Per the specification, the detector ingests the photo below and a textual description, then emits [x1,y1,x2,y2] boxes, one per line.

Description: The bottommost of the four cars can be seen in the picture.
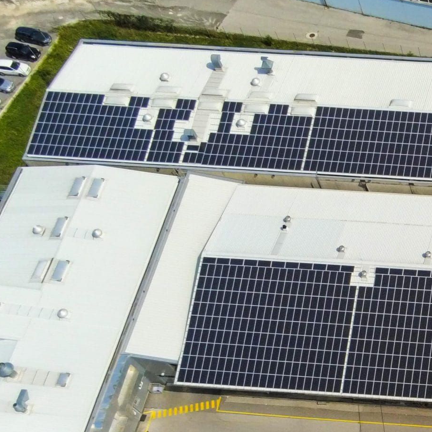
[0,78,15,95]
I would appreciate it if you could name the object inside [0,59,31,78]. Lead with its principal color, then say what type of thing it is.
white car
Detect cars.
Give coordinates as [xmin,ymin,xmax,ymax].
[5,41,41,63]
[14,26,52,46]
[0,78,15,95]
[0,59,31,78]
